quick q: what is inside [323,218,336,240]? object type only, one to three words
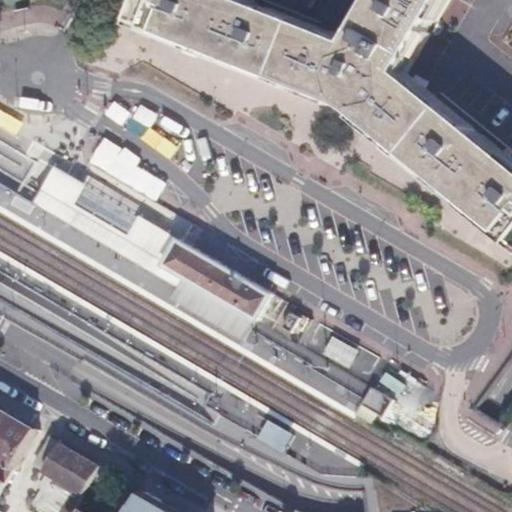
vehicle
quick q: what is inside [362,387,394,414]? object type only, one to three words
shed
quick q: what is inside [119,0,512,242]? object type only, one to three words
building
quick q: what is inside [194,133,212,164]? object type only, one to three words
vehicle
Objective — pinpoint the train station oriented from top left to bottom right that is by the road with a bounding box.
[0,165,364,475]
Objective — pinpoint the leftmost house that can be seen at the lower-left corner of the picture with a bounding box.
[0,405,38,490]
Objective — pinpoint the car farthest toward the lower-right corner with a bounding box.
[404,364,426,382]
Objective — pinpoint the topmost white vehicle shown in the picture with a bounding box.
[20,98,52,112]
